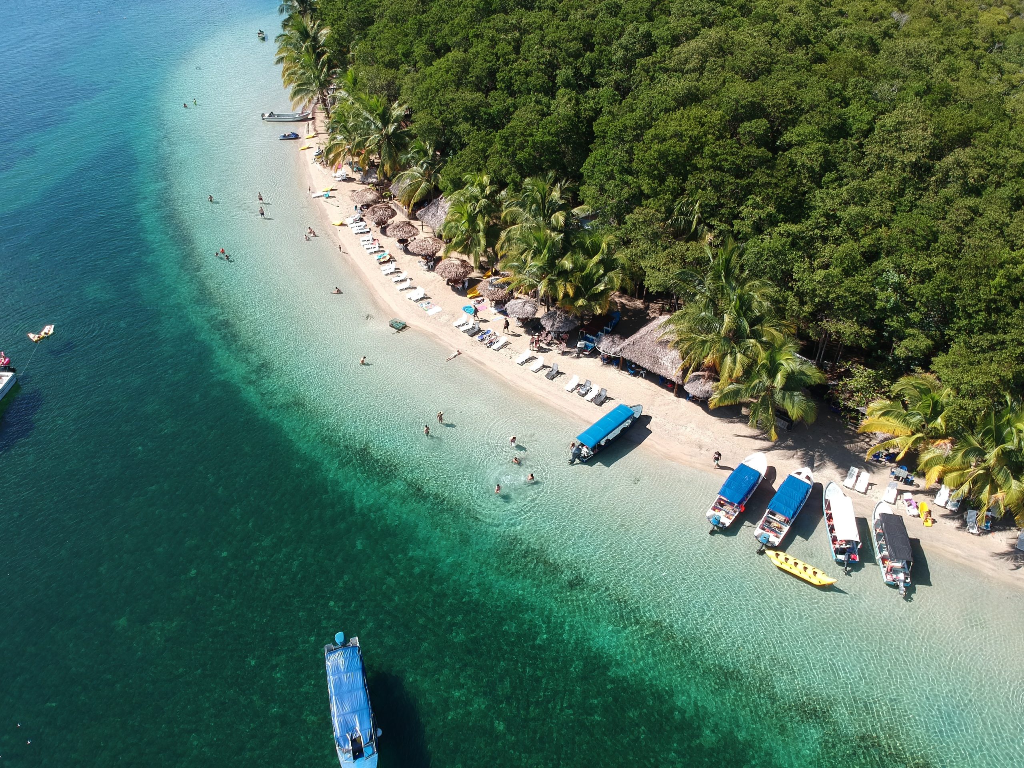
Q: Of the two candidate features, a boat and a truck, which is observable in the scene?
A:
boat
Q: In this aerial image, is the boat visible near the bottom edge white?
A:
No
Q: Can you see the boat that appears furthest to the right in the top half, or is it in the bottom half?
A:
bottom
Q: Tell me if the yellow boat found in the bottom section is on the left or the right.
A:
right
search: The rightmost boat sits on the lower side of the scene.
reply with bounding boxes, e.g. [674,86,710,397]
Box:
[871,497,913,603]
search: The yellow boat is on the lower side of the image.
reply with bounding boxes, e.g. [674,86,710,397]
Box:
[766,549,838,584]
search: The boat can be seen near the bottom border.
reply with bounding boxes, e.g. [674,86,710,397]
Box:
[324,627,379,768]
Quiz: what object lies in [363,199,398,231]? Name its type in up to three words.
umbrella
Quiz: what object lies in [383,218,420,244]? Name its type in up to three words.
umbrella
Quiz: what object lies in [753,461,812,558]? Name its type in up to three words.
boat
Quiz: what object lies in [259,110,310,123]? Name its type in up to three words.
boat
